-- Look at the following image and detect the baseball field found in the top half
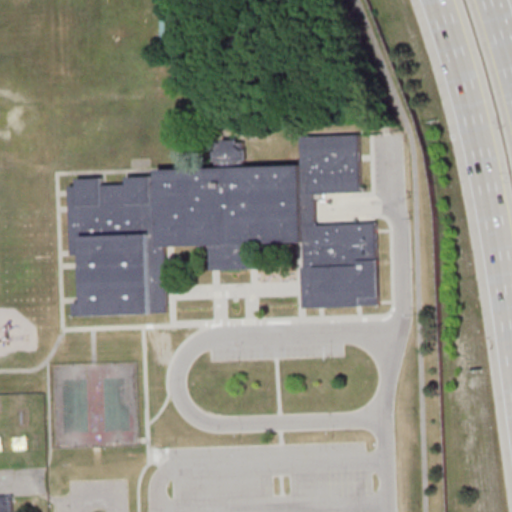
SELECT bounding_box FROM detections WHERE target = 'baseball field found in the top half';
[0,89,27,140]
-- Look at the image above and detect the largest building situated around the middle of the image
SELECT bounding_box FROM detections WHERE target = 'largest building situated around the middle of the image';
[66,134,380,316]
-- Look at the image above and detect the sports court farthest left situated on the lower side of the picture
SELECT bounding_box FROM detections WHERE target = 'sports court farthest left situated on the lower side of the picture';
[54,363,137,448]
